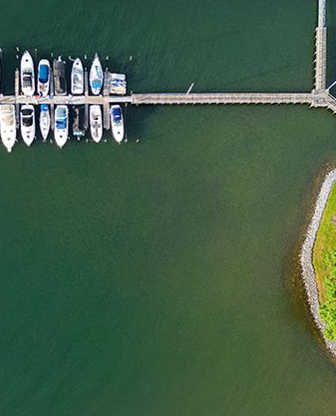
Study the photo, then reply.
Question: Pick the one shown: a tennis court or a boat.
boat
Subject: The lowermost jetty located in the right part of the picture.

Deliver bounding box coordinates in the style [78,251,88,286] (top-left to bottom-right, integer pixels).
[132,25,336,117]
